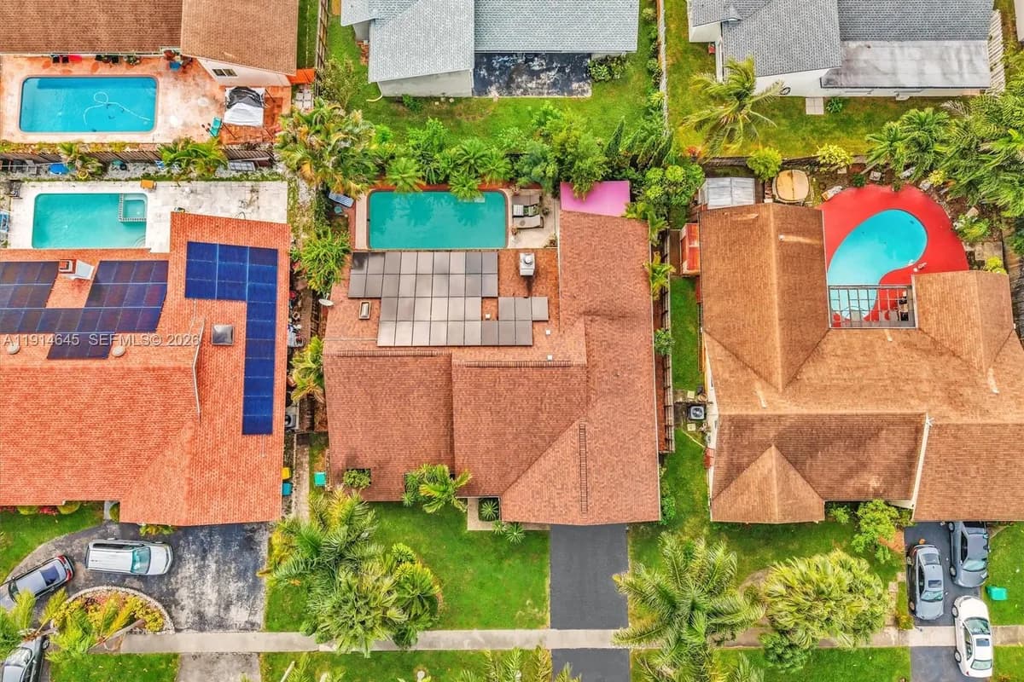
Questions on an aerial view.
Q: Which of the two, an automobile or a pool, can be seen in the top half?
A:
pool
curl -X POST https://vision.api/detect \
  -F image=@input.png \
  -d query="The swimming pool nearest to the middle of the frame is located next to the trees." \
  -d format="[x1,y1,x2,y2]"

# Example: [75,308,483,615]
[366,187,510,249]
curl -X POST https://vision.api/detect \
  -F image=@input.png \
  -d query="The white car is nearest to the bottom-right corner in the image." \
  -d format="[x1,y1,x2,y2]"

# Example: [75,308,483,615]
[945,593,993,679]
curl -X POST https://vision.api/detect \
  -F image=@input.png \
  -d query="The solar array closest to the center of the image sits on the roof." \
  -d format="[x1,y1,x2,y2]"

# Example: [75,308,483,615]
[348,251,549,345]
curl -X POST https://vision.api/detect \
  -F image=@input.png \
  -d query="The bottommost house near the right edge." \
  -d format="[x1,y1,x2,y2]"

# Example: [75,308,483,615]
[696,201,1024,523]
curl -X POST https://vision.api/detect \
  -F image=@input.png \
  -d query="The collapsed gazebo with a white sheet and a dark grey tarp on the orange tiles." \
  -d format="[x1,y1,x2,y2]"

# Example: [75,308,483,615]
[224,86,277,138]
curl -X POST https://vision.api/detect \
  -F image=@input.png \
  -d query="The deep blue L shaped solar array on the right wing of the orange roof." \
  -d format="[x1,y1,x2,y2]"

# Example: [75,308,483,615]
[185,242,278,435]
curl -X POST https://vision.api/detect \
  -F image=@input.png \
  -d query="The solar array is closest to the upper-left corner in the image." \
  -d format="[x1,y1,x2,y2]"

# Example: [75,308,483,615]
[0,261,167,357]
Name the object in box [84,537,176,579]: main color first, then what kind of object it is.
white car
